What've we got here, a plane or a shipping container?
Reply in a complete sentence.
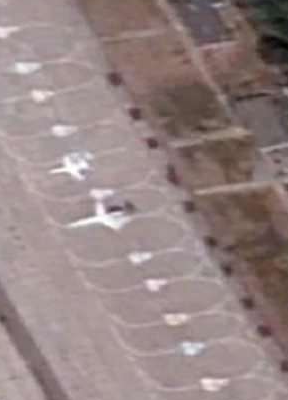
Of the two, only a plane appears.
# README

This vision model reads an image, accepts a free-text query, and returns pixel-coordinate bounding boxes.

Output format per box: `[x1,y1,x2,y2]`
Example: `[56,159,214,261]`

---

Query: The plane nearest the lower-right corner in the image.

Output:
[198,378,228,391]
